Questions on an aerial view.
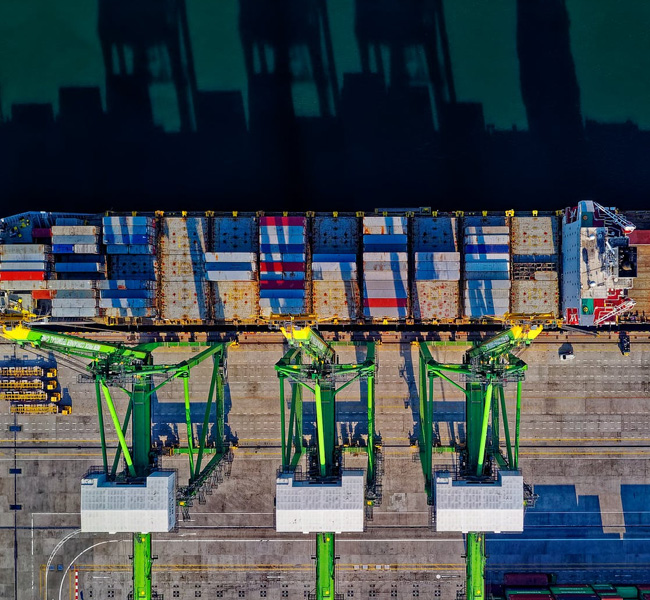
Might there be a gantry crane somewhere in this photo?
Yes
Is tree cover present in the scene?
No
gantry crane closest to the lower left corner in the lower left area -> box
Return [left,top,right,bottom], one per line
[0,312,234,600]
